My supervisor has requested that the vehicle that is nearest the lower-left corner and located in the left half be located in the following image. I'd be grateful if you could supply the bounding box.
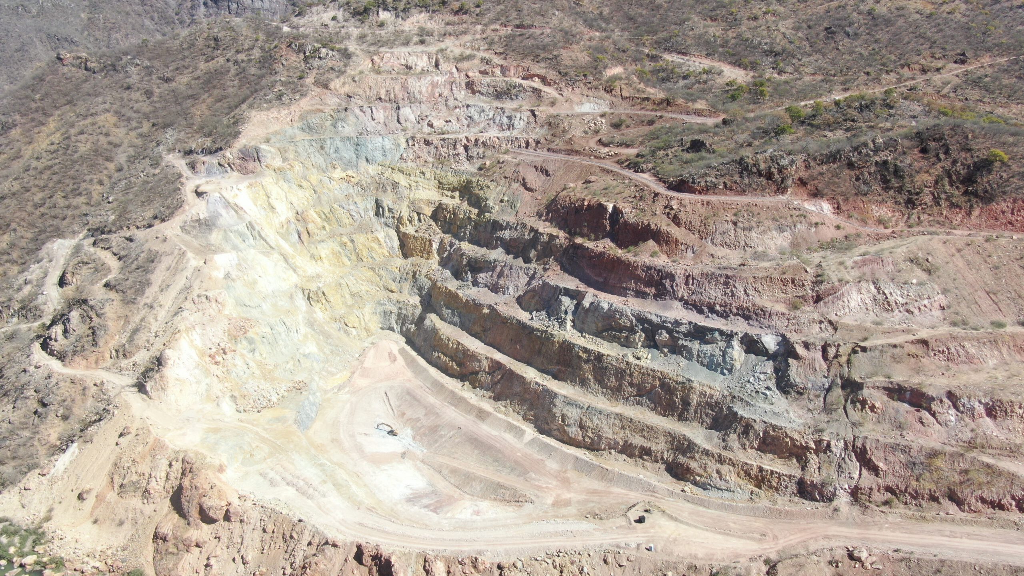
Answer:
[375,419,401,434]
